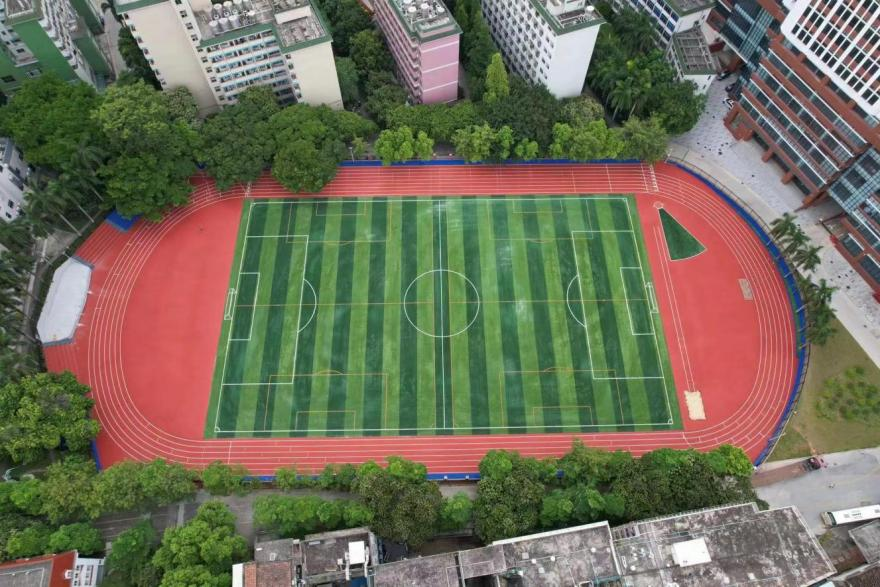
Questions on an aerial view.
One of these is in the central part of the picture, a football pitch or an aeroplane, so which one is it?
football pitch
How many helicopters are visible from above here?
0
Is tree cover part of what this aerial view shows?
Yes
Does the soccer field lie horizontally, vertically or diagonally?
horizontally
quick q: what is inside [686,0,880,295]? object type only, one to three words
building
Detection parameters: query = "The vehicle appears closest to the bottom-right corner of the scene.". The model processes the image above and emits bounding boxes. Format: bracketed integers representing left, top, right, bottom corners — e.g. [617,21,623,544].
[818,505,880,527]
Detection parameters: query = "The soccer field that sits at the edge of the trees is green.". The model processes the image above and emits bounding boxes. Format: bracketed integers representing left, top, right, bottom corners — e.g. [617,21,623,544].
[203,193,684,437]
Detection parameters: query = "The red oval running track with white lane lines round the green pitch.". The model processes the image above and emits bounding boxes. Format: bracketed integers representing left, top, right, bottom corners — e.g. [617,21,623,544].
[71,162,797,479]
